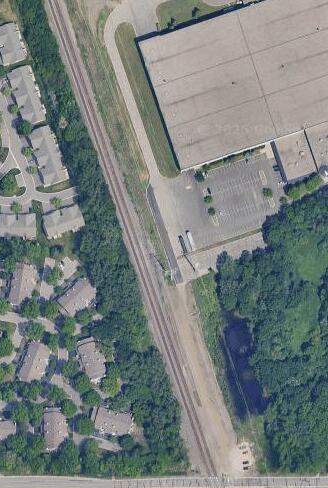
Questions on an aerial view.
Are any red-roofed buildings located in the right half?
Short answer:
No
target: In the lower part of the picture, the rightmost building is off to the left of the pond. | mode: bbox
[93,405,137,437]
